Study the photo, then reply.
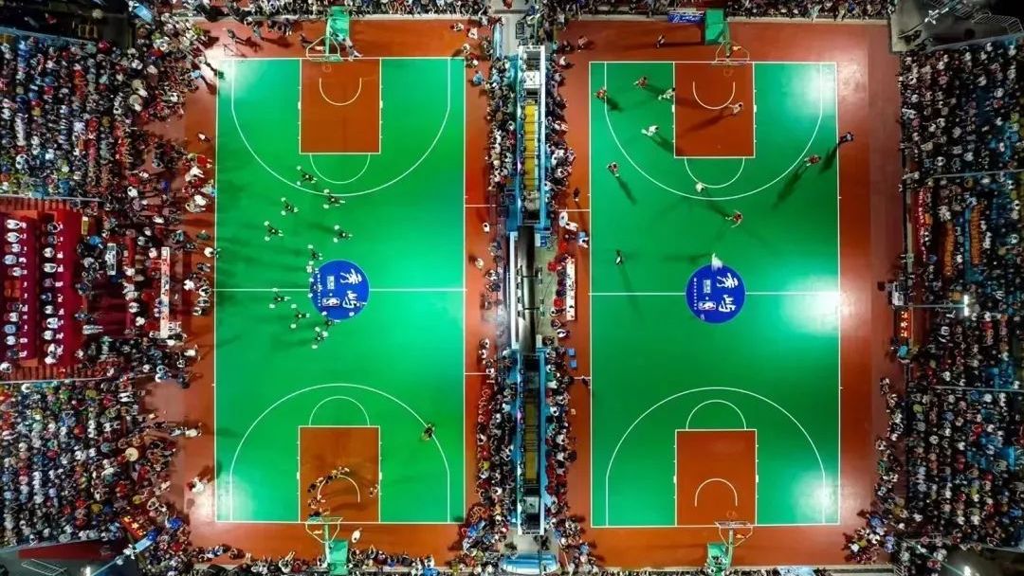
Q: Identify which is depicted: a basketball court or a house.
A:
basketball court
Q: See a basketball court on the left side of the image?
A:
Yes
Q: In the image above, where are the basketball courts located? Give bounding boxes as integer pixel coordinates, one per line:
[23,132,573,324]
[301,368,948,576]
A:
[214,58,497,522]
[566,62,841,527]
